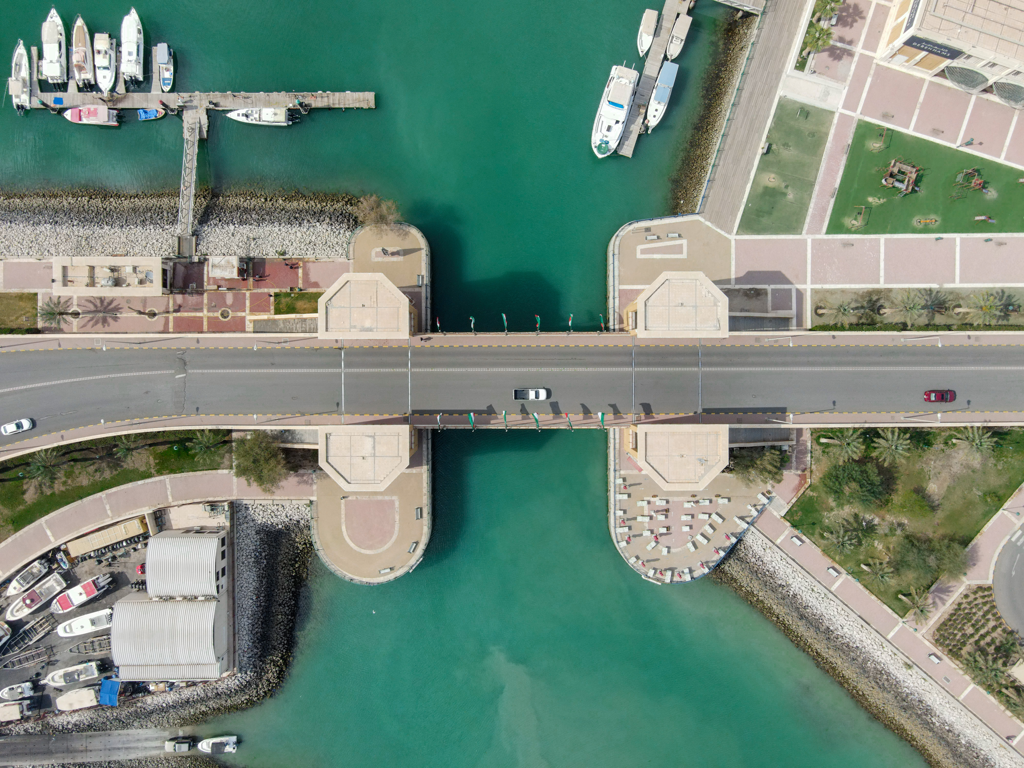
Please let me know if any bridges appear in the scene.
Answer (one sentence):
Yes, the image includes a bridge.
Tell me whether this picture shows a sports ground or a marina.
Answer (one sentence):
The picture captures a marina.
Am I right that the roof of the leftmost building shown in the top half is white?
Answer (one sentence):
Yes, white is the color of the roof of the leftmost building shown in the top half.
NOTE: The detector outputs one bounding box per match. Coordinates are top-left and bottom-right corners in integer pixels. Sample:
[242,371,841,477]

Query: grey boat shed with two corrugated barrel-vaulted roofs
[110,529,228,680]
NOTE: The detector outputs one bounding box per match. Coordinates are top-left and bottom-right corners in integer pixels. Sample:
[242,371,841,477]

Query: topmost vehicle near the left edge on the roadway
[1,418,35,436]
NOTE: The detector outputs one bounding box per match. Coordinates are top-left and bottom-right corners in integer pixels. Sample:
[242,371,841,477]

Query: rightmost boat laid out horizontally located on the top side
[223,106,299,126]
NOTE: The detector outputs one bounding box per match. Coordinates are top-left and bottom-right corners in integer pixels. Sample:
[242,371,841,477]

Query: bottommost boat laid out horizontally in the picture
[197,737,246,754]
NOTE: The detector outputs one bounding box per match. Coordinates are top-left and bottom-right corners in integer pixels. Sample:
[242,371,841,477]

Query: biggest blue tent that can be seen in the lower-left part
[99,673,125,706]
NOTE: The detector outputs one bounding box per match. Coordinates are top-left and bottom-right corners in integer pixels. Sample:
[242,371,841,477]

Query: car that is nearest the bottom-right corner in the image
[923,389,953,403]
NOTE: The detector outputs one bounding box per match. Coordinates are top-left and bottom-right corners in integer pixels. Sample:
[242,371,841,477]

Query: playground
[826,120,1024,234]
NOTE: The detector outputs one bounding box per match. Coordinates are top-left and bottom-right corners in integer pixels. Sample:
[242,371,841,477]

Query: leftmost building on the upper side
[51,256,177,297]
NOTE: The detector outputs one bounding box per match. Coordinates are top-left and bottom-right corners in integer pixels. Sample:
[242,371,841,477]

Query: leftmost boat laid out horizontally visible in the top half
[64,106,128,127]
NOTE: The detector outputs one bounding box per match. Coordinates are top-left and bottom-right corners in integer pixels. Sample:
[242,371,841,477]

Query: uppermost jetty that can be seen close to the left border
[31,46,375,140]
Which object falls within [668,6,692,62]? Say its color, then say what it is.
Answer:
white boat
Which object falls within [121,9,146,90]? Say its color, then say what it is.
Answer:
white boat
